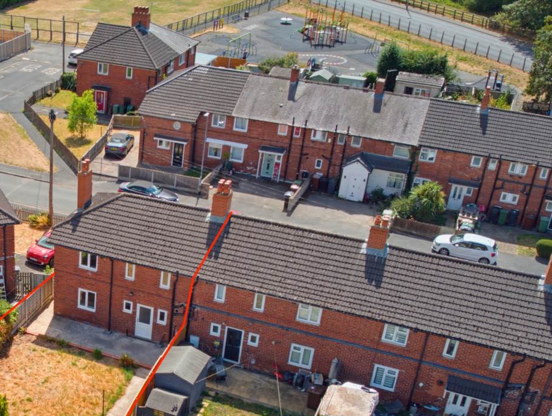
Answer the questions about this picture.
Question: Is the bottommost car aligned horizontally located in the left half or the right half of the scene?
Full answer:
The bottommost car aligned horizontally is on the right side of the image.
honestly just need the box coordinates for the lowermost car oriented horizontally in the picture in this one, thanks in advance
[437,232,497,261]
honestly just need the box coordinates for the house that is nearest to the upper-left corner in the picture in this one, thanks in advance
[75,0,200,113]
